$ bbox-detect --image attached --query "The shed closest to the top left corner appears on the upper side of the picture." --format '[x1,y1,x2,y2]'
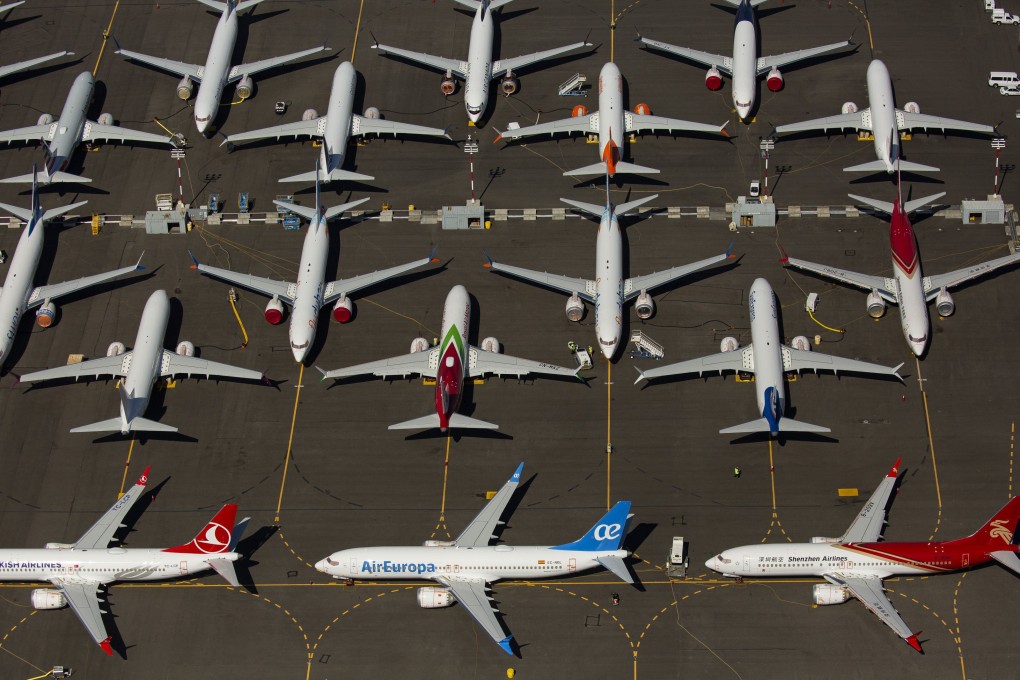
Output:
[143,211,188,234]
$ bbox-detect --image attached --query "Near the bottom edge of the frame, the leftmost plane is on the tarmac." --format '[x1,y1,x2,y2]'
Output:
[0,465,250,657]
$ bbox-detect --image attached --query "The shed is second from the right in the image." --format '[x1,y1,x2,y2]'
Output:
[732,203,776,227]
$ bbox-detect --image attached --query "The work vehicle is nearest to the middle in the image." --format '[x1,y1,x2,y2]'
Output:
[575,344,594,366]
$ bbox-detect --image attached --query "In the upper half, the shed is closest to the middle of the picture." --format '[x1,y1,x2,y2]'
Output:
[441,206,485,229]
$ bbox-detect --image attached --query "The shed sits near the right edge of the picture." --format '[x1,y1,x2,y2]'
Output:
[961,200,1005,224]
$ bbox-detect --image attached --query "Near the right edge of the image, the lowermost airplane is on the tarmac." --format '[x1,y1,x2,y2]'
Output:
[706,458,1020,653]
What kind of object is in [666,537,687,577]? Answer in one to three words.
vehicle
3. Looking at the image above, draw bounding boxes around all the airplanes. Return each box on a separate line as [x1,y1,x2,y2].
[706,458,1020,653]
[483,158,734,360]
[218,69,451,183]
[0,165,149,366]
[494,63,728,177]
[636,283,904,434]
[371,0,592,125]
[316,461,635,655]
[778,156,1020,358]
[767,60,1004,174]
[318,283,584,432]
[0,465,250,657]
[0,72,177,185]
[635,0,857,122]
[8,286,272,434]
[189,160,438,362]
[113,0,331,133]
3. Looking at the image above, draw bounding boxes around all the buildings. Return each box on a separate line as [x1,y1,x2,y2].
[441,206,485,229]
[961,200,1005,224]
[732,203,776,227]
[143,211,188,234]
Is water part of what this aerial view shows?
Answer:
No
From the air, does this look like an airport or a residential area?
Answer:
airport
